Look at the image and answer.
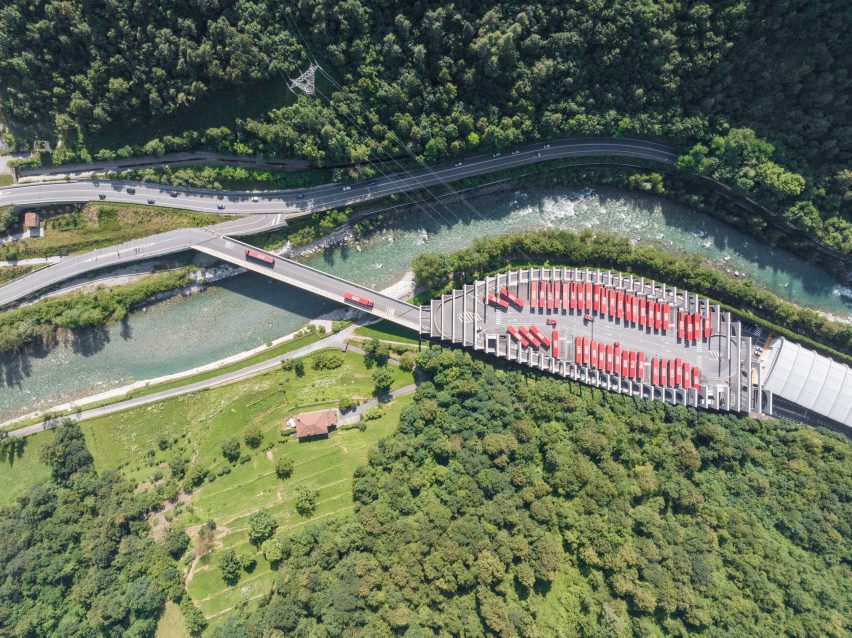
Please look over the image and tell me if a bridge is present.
Yes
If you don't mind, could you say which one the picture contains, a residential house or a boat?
residential house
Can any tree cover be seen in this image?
Yes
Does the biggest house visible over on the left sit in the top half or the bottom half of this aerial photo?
bottom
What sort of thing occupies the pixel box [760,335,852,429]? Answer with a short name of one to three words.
building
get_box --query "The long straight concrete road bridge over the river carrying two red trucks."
[190,227,419,330]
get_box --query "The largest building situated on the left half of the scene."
[295,408,338,438]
